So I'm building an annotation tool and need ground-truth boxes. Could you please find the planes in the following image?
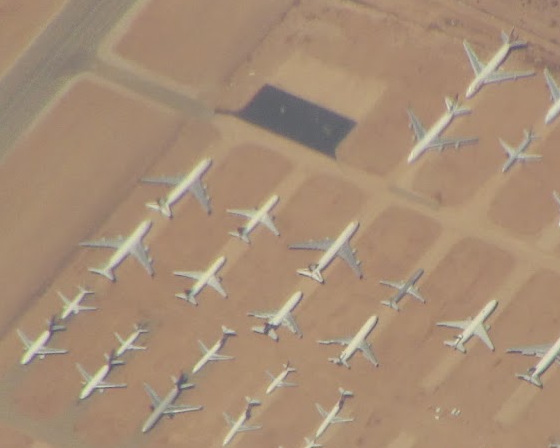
[316,390,354,437]
[76,350,125,398]
[115,323,147,355]
[289,221,362,284]
[506,337,560,388]
[141,376,201,431]
[305,436,322,448]
[265,362,296,393]
[193,326,232,372]
[436,300,497,352]
[380,269,426,310]
[318,316,378,368]
[17,316,67,365]
[545,68,560,123]
[227,195,281,243]
[407,98,478,162]
[60,283,95,318]
[173,256,228,306]
[500,128,543,171]
[141,158,213,218]
[463,30,536,96]
[80,219,155,281]
[223,398,261,446]
[247,291,302,340]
